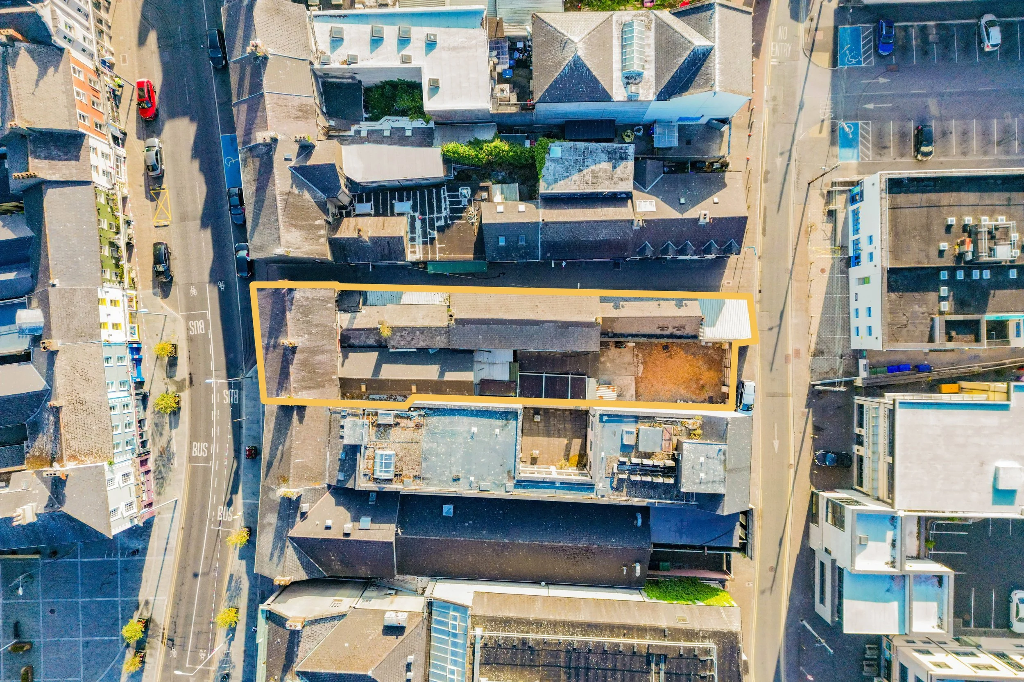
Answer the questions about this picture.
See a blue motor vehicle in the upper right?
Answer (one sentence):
Yes, in the upper right there is a blue motor vehicle.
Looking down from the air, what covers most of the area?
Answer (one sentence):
The scene is dominated by buildings.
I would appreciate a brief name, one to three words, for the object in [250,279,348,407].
house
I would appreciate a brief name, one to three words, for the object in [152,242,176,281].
car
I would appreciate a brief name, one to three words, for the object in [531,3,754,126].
building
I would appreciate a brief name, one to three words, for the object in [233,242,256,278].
car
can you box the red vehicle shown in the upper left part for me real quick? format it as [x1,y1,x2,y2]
[136,80,160,119]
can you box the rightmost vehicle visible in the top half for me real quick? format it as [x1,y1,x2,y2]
[976,13,1001,52]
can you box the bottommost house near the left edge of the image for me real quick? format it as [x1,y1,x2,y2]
[0,459,148,551]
